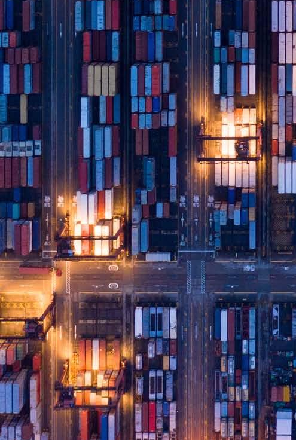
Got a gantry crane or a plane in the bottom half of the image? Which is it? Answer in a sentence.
Visible in the bottom half of the image is a gantry crane.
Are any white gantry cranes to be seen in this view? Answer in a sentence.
No, I find no white gantry crane anywhere in the image.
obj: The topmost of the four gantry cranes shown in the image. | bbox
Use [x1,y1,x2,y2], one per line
[196,119,265,161]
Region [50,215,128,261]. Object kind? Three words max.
container crane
